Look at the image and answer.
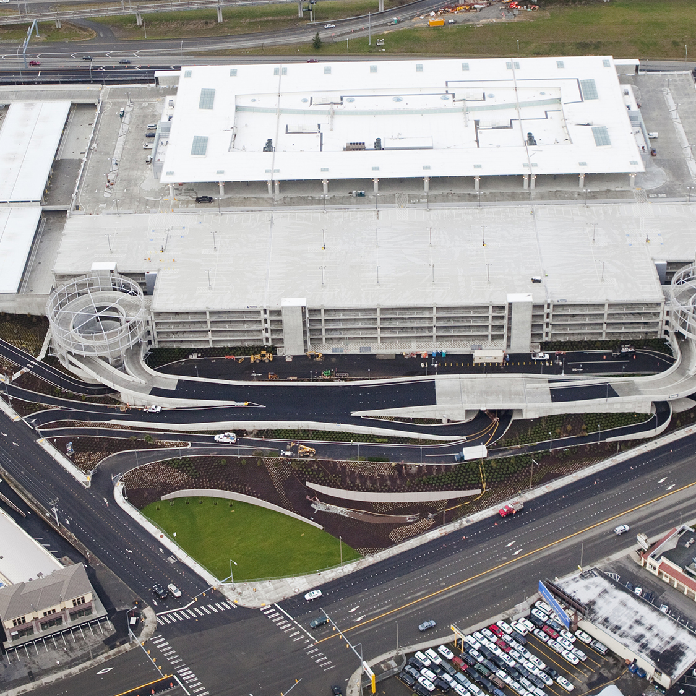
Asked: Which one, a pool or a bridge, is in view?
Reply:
bridge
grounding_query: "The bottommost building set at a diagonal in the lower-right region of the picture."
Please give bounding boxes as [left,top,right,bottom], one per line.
[553,566,696,693]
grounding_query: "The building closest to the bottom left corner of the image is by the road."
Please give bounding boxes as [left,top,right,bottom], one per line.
[0,507,108,641]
